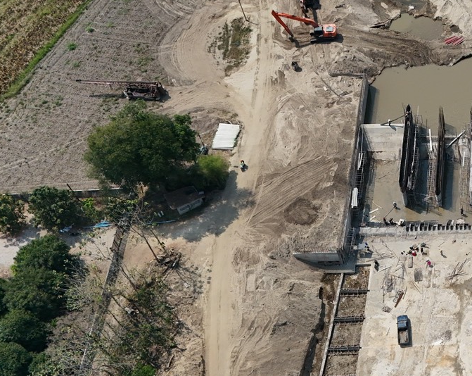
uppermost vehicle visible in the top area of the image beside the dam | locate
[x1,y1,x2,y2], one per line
[269,7,340,43]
